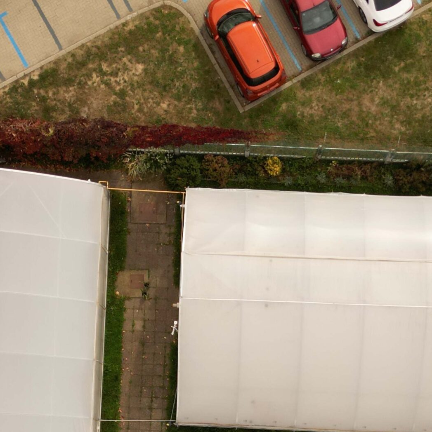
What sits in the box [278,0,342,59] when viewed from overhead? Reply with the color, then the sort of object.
red car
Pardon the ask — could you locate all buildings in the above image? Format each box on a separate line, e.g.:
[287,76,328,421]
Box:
[0,167,111,432]
[175,188,432,432]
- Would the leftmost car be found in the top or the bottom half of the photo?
top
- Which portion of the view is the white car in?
top right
